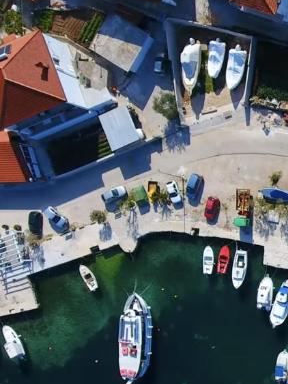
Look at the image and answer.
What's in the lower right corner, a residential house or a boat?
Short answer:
boat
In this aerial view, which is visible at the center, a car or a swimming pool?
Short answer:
car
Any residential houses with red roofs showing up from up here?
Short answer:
Yes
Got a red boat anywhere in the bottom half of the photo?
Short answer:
Yes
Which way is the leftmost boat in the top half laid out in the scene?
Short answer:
vertically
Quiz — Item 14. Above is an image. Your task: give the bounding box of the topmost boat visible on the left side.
[79,254,99,294]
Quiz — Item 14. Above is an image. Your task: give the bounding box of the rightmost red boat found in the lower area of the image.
[215,243,234,277]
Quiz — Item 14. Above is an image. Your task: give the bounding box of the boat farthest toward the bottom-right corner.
[271,349,288,384]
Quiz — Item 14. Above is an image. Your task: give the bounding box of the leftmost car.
[28,212,45,238]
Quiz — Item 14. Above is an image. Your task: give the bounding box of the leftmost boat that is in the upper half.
[181,37,202,96]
